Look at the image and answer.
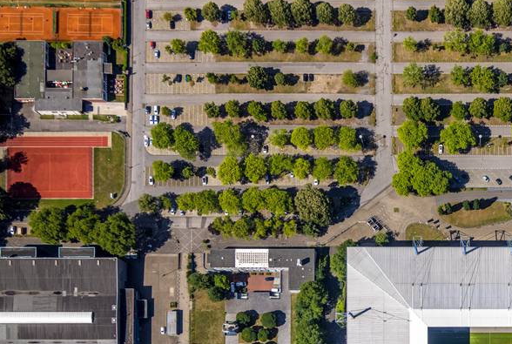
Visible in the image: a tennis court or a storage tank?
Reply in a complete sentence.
This aerial view contains a tennis court.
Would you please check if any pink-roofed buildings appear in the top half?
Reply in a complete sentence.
No, the scene shows no pink-roofed building in the top half.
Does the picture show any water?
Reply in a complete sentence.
No, water can't be seen anywhere here.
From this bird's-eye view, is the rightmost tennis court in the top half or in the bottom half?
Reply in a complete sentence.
The rightmost tennis court sits in the top half of the picture.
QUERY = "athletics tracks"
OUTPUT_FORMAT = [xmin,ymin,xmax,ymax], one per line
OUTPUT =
[1,132,111,148]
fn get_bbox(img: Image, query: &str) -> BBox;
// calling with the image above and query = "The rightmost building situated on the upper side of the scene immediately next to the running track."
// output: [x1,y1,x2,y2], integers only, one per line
[73,41,108,102]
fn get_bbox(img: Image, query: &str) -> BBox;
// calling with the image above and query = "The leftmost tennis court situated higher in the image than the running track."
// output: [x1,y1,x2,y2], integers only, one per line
[0,7,53,40]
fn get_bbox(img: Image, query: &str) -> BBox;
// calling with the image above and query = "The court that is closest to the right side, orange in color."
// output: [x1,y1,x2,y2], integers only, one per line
[59,8,120,40]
